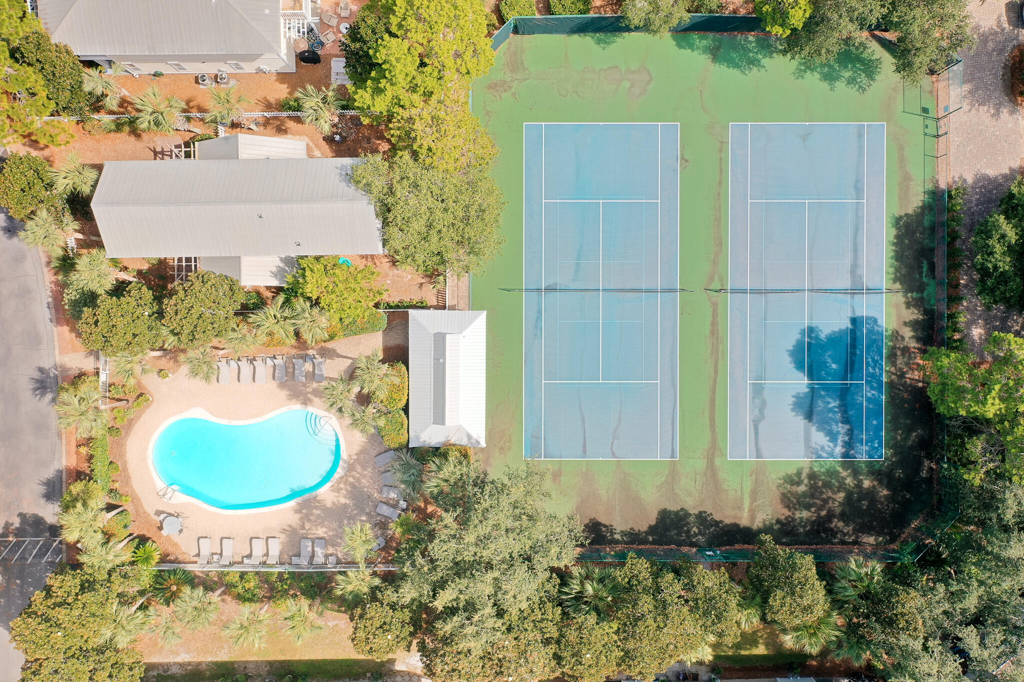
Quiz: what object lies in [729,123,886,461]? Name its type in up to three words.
tennis court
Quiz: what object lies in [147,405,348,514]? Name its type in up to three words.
swimming pool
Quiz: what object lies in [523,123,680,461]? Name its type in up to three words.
tennis court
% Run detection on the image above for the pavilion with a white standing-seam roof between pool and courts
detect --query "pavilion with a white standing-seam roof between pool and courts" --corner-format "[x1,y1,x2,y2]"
[408,310,487,447]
